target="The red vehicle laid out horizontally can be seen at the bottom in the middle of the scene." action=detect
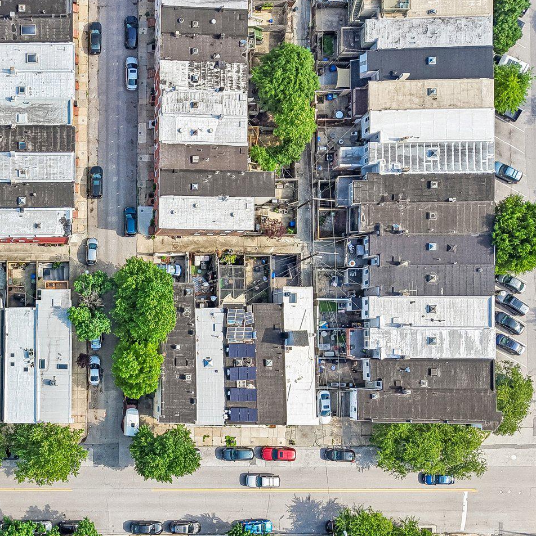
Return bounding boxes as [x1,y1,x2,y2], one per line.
[260,446,295,463]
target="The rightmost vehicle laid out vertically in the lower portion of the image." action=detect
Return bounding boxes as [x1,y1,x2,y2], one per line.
[319,387,333,421]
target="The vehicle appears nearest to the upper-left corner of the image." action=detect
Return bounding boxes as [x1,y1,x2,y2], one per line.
[87,21,104,56]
